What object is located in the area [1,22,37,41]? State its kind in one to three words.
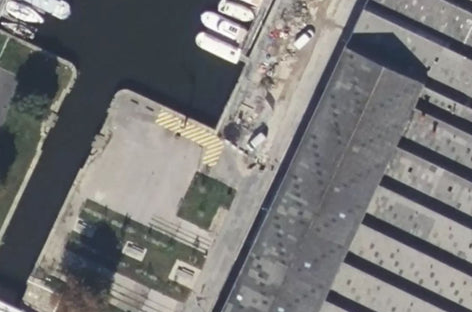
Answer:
boat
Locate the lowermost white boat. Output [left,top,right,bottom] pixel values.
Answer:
[196,34,243,64]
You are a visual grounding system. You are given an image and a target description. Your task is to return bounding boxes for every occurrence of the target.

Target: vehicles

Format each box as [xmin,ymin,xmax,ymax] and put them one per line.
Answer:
[294,28,312,51]
[247,131,267,151]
